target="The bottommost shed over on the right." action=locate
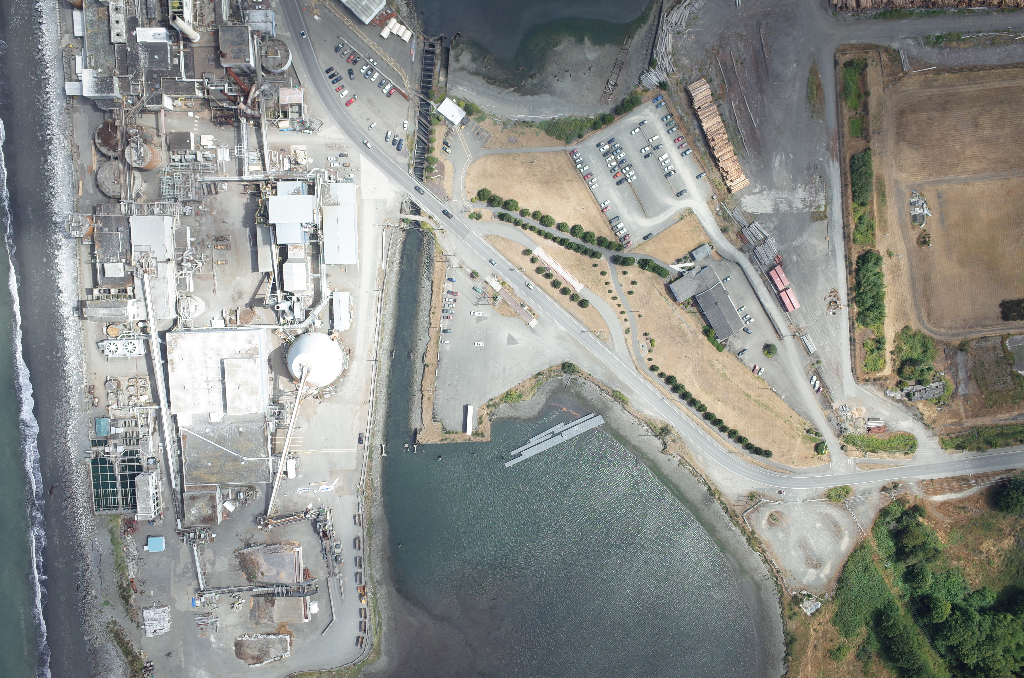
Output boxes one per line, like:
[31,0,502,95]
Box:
[886,378,945,404]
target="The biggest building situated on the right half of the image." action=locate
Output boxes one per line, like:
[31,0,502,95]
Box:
[667,266,744,340]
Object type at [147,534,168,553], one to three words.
shed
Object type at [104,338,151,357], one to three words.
cooling tower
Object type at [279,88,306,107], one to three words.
building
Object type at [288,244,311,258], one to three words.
building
